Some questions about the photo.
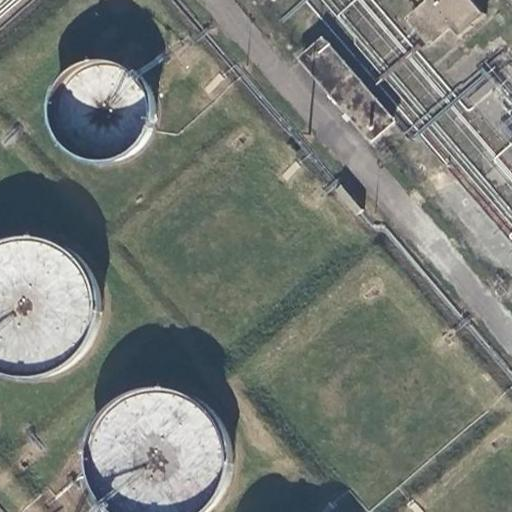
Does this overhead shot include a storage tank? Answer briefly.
Yes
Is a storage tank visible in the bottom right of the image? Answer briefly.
No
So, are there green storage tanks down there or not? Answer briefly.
No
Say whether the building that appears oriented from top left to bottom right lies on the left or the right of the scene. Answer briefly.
right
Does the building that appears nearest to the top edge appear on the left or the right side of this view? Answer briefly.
right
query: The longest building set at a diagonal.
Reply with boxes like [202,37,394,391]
[297,38,398,144]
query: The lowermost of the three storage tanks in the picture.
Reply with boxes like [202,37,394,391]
[82,388,233,512]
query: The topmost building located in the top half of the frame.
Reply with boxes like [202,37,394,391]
[406,0,488,46]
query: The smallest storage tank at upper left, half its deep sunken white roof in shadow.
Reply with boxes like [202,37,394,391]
[44,54,167,166]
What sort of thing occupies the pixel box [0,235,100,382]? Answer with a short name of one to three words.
storage tank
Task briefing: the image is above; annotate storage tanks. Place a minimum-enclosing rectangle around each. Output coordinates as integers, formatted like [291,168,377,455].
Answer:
[0,235,100,382]
[44,54,167,166]
[82,388,233,512]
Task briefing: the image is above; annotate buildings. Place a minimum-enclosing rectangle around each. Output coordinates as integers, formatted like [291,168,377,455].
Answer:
[297,38,398,144]
[406,0,488,46]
